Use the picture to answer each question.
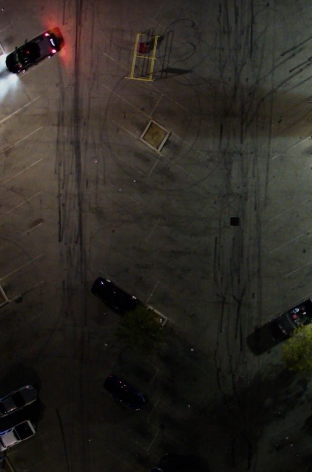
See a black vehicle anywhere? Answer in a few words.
Yes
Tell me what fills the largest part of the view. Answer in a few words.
paved ground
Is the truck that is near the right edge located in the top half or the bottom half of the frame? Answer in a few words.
bottom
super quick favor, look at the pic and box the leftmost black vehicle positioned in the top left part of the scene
[4,32,59,75]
